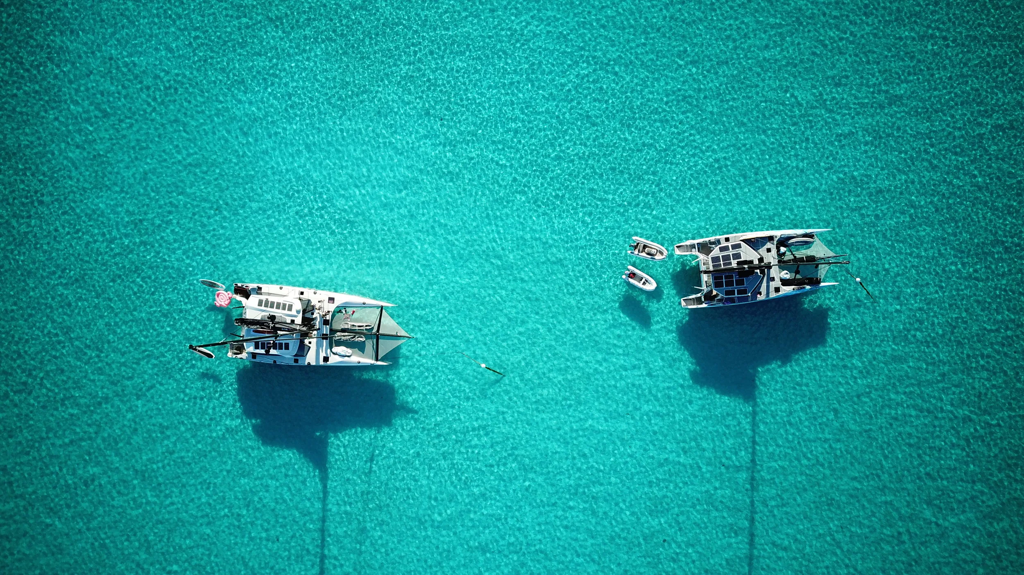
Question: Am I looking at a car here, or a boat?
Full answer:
Of the two, only a boat appears.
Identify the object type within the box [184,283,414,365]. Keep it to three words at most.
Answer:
boat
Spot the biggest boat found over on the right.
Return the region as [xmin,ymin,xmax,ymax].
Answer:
[673,229,853,308]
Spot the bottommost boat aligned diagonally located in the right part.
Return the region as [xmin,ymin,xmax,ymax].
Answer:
[622,263,658,290]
